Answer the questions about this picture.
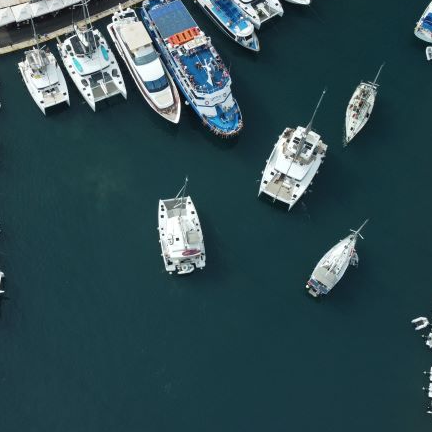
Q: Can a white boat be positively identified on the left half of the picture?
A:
Yes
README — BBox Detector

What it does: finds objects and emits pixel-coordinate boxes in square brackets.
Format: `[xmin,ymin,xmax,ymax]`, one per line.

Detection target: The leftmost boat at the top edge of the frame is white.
[20,18,71,124]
